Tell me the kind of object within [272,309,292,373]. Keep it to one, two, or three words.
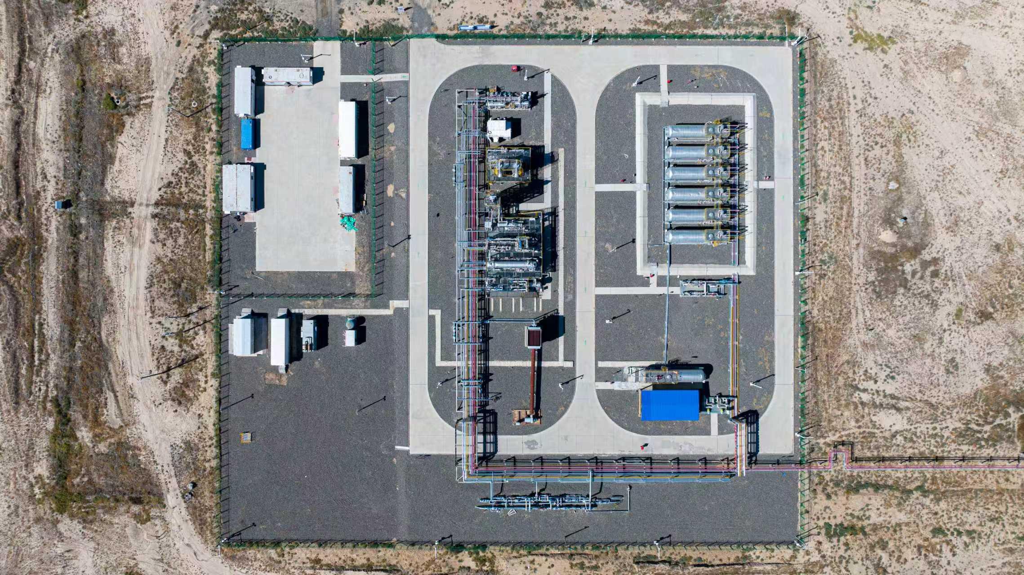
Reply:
house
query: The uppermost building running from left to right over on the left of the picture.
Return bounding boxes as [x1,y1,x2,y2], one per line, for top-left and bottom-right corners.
[262,67,314,86]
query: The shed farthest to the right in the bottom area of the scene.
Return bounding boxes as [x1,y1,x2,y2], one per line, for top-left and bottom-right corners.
[638,388,699,421]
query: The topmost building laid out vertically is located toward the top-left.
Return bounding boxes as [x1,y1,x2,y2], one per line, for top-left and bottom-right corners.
[235,66,256,117]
